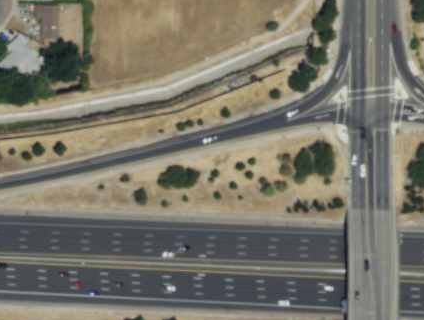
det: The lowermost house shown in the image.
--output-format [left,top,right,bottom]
[0,34,46,72]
